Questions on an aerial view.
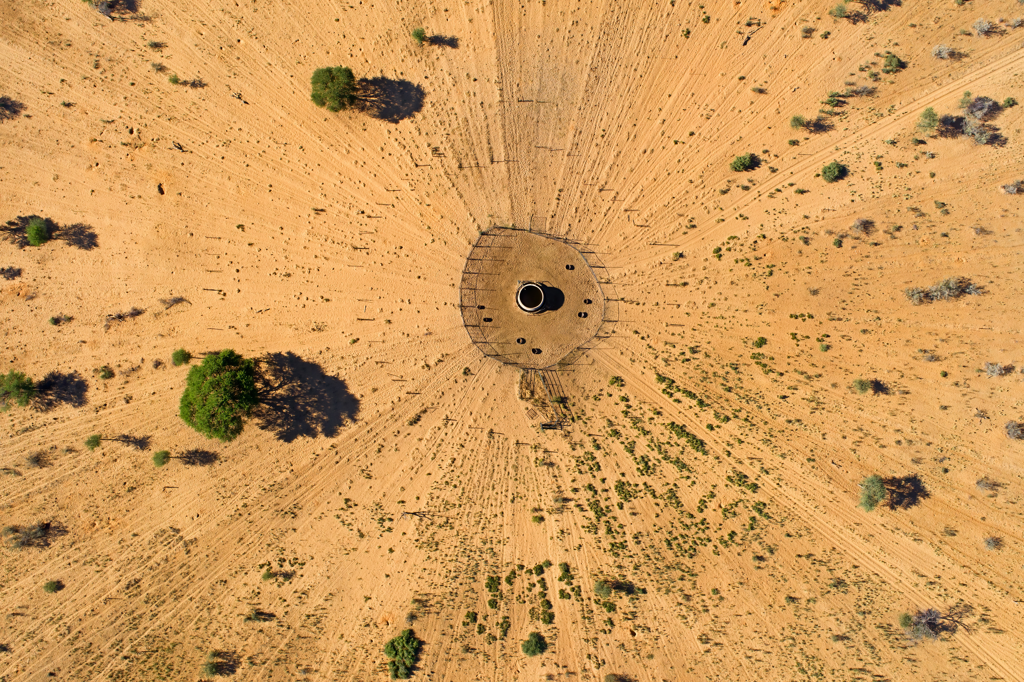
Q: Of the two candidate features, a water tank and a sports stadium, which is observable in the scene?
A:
water tank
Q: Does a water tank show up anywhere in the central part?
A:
Yes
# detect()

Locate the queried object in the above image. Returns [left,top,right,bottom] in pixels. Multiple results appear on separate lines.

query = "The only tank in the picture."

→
[515,278,547,313]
